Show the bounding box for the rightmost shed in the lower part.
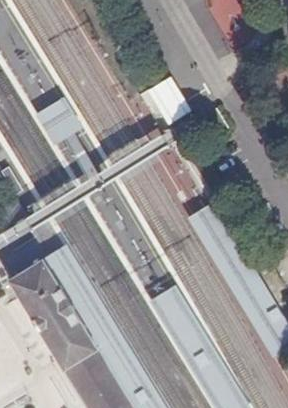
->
[188,206,288,356]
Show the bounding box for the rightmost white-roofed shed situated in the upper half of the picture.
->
[142,76,190,126]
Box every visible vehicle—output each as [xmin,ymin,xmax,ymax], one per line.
[273,204,284,223]
[216,156,238,173]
